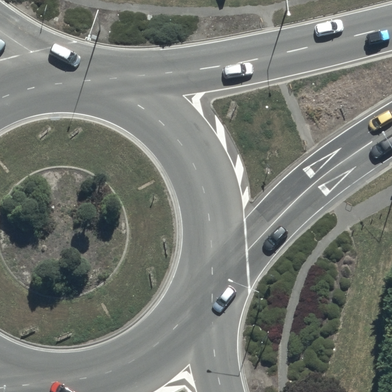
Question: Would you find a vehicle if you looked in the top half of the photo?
Yes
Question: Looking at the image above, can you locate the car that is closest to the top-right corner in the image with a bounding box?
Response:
[366,30,390,44]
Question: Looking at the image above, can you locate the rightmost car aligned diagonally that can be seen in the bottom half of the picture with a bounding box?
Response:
[262,226,290,254]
